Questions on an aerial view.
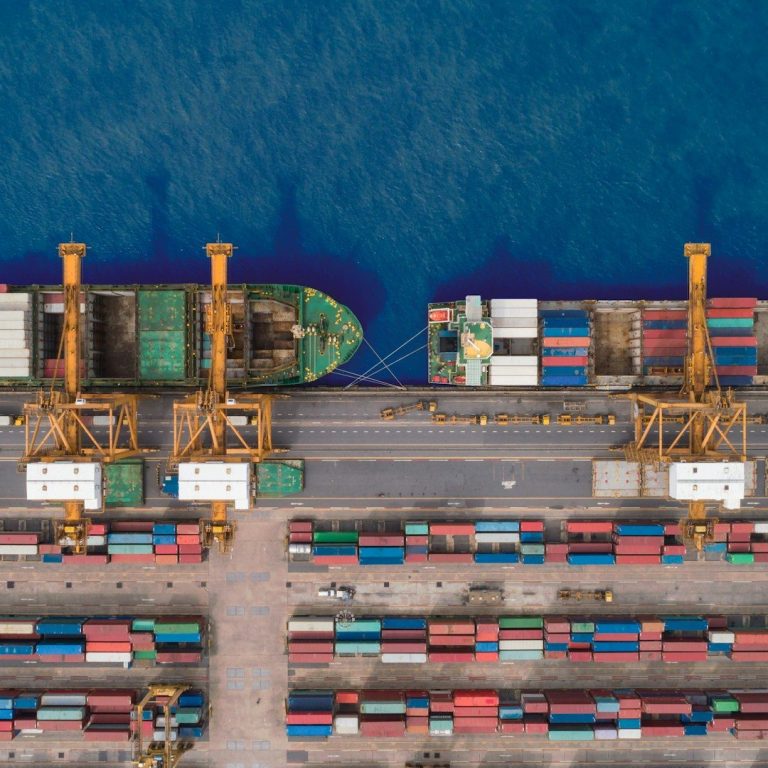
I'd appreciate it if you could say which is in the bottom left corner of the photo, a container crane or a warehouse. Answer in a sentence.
The feature located in the bottom left corner of the photo is a container crane.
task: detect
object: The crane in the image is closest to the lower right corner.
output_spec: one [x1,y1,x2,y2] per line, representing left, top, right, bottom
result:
[608,244,748,552]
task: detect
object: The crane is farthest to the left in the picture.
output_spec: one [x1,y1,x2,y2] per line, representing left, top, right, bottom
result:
[16,230,160,552]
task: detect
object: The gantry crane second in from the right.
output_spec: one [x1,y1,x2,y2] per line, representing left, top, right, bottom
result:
[166,230,290,552]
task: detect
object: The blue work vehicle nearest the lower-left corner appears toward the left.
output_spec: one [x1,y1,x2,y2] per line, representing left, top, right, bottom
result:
[162,475,182,496]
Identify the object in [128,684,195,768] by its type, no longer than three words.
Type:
container crane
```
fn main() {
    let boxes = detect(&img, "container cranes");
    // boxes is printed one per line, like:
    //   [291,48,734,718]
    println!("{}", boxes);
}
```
[608,244,748,552]
[16,230,160,552]
[128,684,195,768]
[166,230,290,552]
